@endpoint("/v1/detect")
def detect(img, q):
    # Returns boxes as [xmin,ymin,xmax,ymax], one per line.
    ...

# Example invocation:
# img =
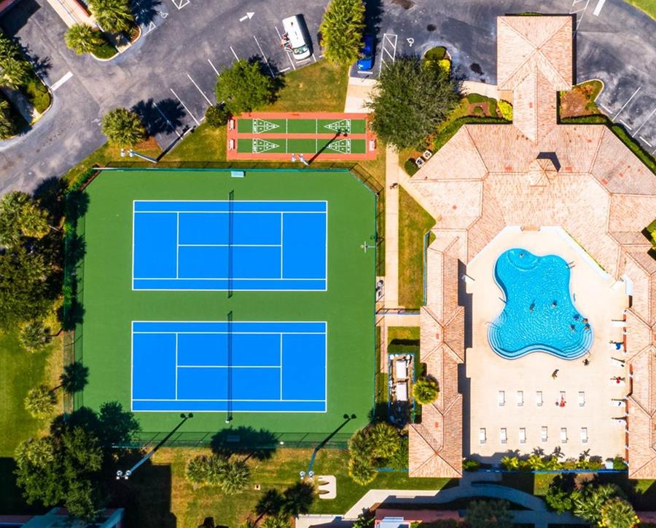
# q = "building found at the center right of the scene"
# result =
[409,15,656,479]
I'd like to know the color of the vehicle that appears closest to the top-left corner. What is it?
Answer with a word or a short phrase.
white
